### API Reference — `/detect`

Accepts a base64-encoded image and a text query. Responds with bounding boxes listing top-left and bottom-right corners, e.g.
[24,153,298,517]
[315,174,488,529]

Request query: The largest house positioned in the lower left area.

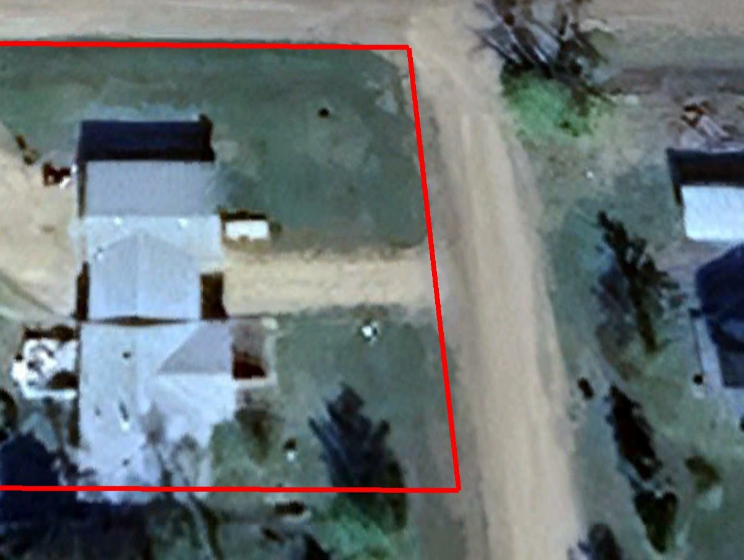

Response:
[79,315,237,509]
